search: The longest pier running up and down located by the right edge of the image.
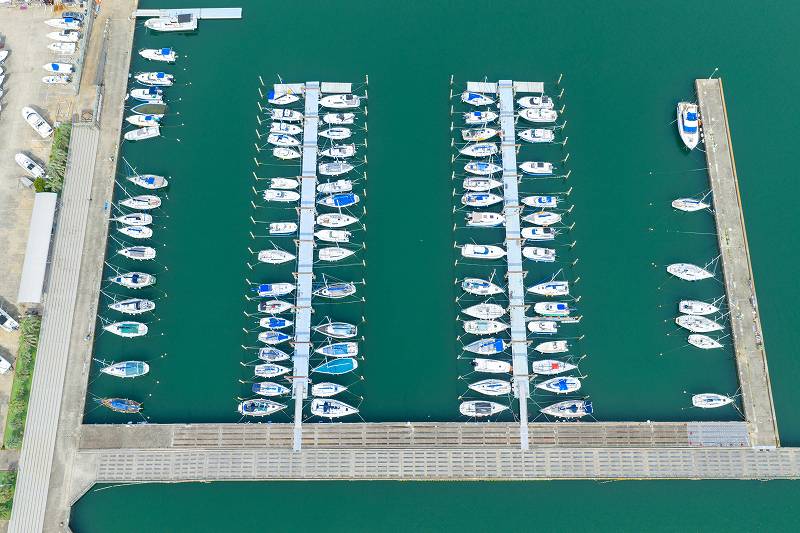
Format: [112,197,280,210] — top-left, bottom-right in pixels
[693,76,781,446]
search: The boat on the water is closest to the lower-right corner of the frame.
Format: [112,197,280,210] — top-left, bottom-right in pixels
[684,389,744,409]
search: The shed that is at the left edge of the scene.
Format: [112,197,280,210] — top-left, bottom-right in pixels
[16,192,62,305]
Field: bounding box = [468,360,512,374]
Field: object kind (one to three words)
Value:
boat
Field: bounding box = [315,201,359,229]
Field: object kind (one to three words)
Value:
boat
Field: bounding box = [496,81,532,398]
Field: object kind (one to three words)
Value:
pier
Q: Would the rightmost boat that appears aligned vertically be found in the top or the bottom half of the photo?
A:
top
